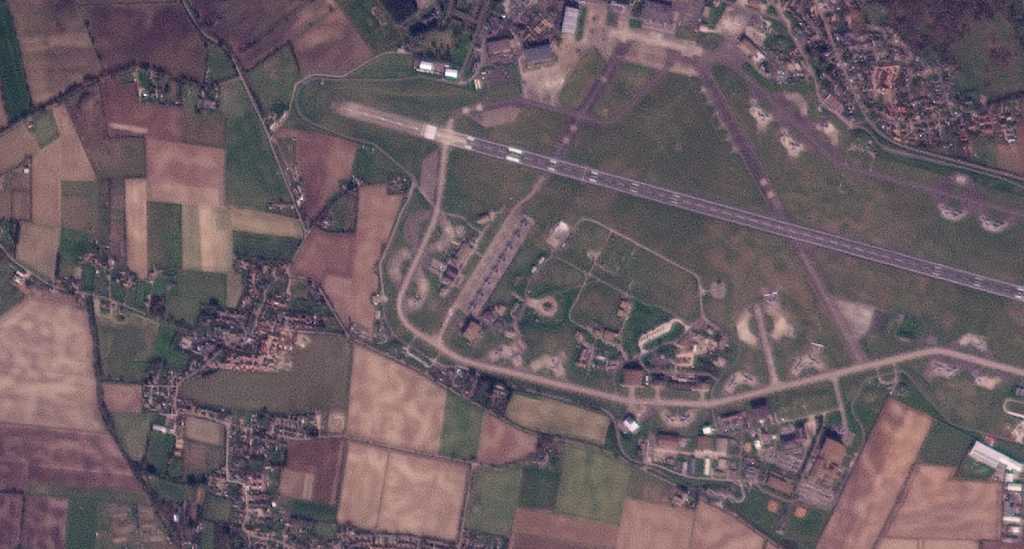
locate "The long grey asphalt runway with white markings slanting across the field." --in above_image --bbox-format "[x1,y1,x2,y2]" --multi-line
[357,112,1024,301]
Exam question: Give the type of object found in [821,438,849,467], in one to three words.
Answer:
hangar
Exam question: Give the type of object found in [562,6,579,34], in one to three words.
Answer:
hangar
